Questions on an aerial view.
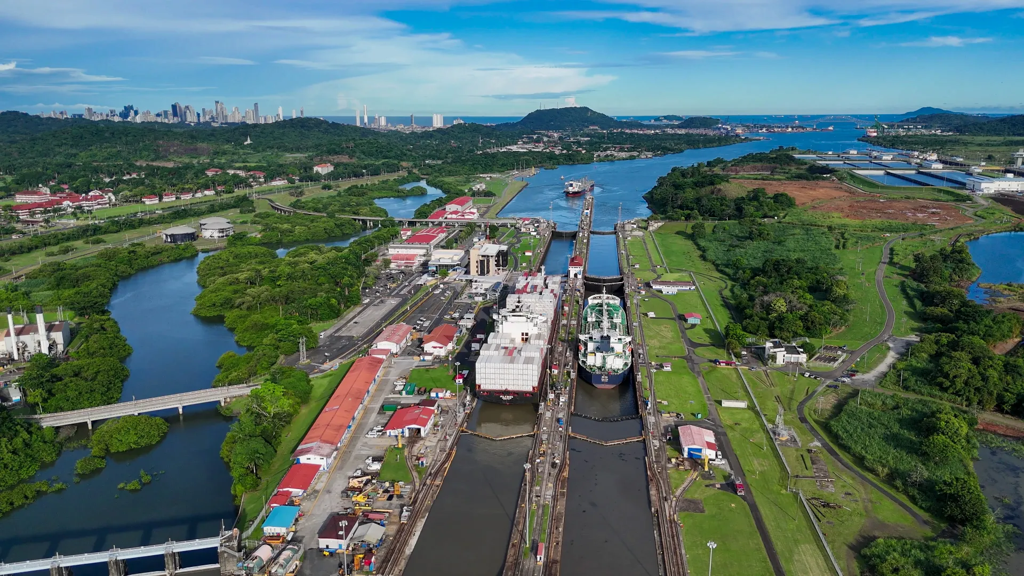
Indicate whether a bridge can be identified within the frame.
Yes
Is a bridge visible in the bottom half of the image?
Yes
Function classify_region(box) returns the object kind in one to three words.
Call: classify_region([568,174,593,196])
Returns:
ship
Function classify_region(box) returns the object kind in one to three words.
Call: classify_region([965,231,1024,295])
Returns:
pond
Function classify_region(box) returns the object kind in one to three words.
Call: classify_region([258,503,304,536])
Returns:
shed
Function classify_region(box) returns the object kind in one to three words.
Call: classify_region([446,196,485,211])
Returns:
building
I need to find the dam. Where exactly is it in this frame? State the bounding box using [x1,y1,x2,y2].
[0,515,257,576]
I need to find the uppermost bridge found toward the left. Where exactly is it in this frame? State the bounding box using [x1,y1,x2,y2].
[260,198,515,229]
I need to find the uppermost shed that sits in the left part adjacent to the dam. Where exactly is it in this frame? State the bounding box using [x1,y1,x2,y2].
[288,355,393,470]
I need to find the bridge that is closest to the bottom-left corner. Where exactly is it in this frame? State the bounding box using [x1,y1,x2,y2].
[0,385,252,430]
